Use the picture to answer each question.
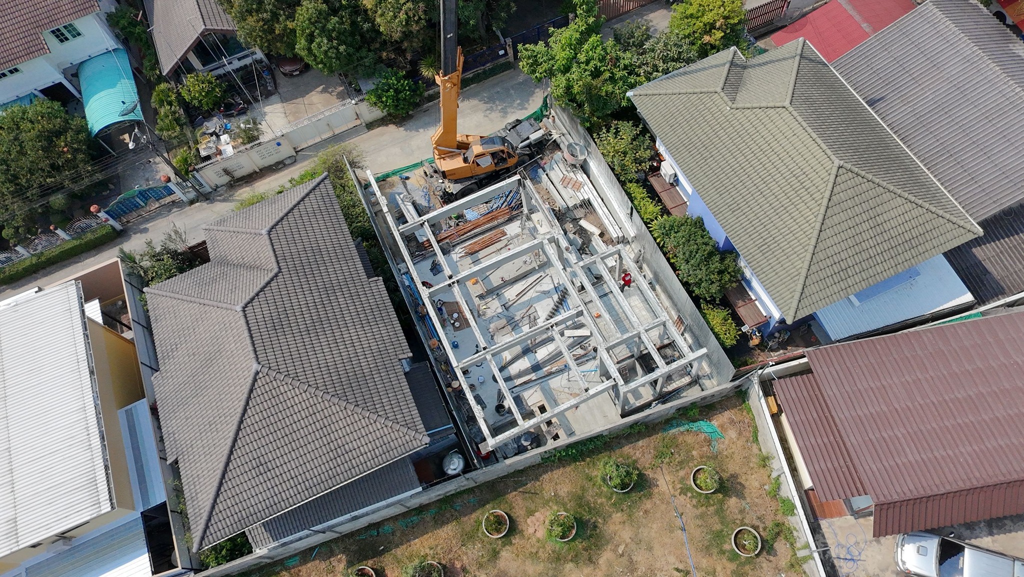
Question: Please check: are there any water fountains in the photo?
No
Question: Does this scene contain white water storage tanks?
No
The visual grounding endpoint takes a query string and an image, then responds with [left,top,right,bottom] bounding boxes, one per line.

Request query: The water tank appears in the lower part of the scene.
[435,448,464,479]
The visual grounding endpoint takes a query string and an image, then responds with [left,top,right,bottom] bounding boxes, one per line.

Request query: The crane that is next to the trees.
[428,0,563,214]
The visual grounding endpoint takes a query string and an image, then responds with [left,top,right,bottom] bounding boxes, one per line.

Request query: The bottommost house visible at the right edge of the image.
[774,300,1024,538]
